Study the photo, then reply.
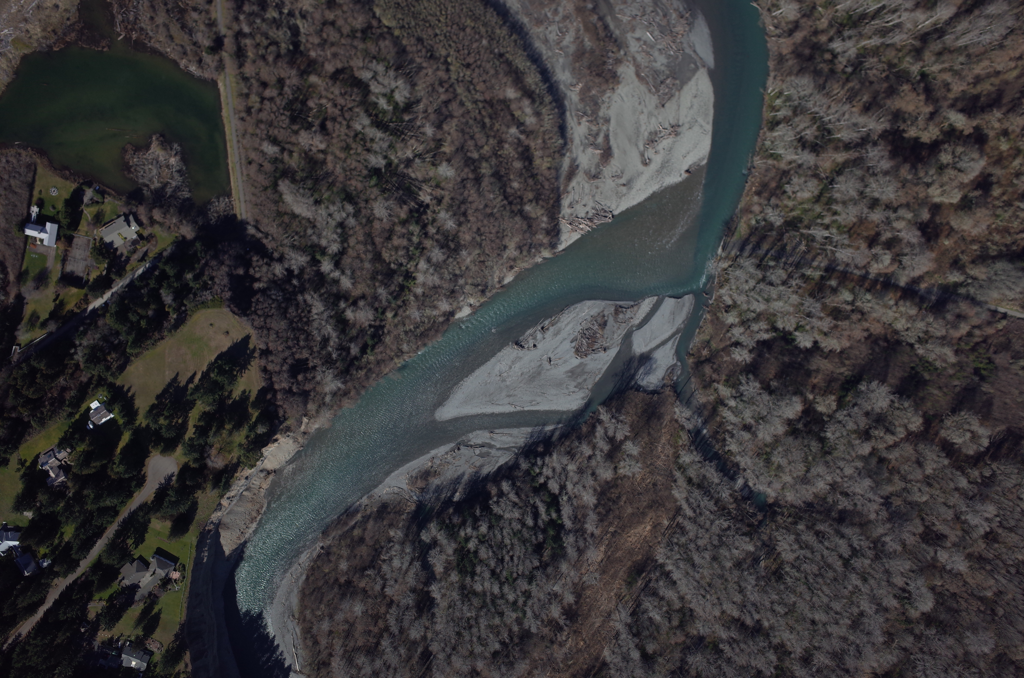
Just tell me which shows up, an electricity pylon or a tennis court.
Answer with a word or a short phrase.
tennis court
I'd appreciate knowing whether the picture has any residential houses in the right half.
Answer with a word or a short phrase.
No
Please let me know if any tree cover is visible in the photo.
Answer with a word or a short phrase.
Yes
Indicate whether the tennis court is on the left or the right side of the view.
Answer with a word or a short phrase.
left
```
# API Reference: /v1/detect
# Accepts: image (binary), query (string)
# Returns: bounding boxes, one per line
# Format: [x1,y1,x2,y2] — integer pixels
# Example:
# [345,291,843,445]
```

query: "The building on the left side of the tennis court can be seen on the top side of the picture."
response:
[23,222,60,247]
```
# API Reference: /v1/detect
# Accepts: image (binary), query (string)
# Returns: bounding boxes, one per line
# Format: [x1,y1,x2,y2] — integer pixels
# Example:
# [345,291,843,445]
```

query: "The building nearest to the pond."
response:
[99,214,141,247]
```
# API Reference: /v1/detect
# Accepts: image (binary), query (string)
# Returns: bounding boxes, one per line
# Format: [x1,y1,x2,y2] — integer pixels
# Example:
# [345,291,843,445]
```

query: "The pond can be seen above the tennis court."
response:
[0,0,230,204]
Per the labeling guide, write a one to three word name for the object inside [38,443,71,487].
house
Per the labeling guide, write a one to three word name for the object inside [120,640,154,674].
house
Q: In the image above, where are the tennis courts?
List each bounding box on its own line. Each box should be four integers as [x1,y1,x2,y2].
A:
[57,234,91,287]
